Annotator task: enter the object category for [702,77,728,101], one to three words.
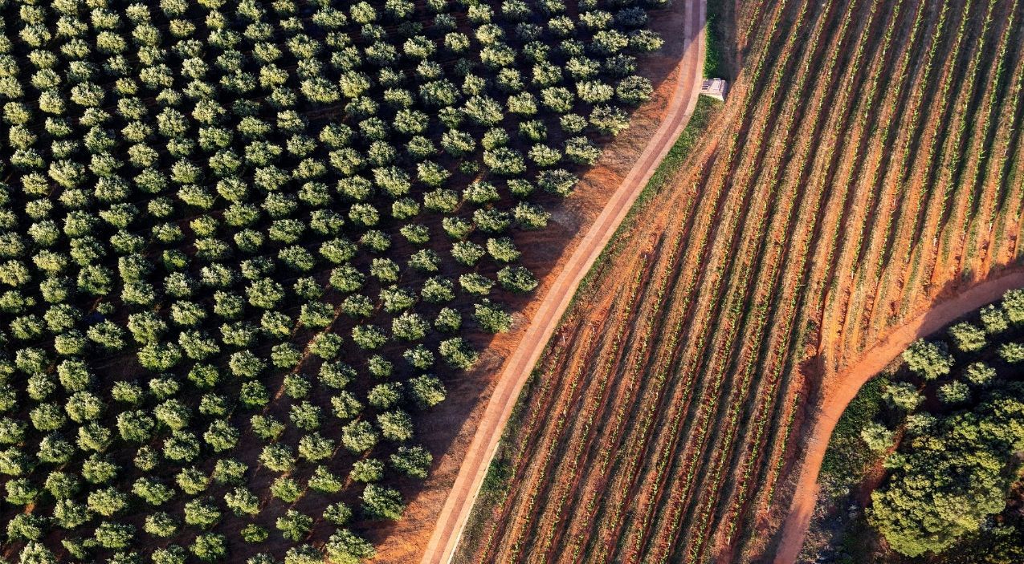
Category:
shed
